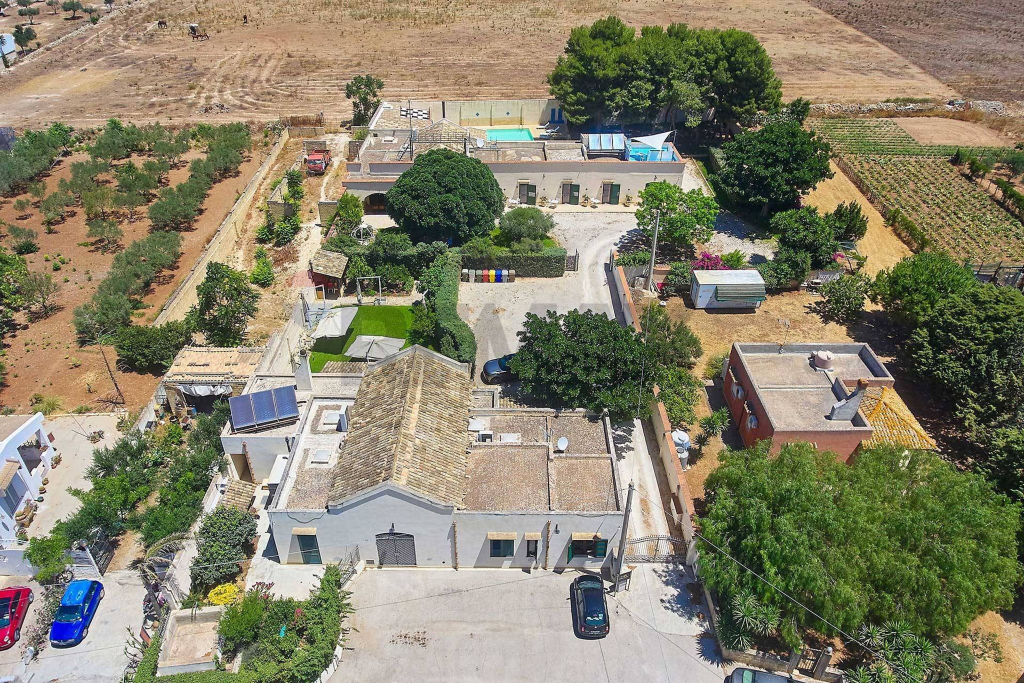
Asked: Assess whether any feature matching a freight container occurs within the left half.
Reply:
No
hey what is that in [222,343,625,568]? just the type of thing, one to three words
house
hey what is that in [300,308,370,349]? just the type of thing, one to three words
umbrella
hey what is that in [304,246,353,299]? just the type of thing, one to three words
shed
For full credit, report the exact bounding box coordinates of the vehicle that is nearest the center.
[487,355,515,384]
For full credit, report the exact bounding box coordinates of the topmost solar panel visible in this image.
[583,130,632,163]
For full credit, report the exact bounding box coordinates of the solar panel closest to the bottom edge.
[229,385,302,434]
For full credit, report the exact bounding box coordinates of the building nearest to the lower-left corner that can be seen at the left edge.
[0,408,62,553]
